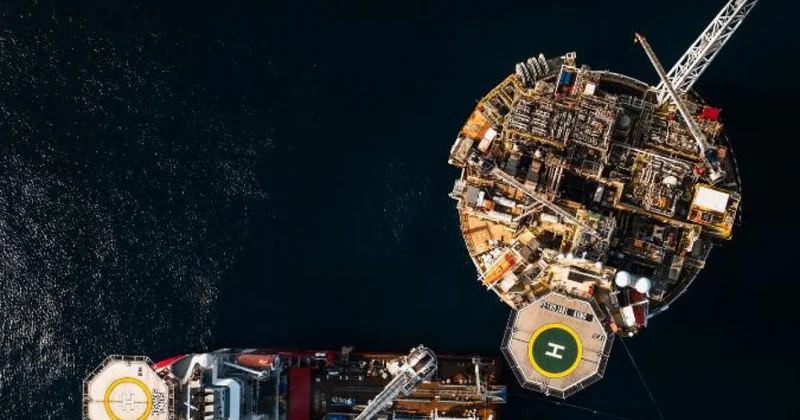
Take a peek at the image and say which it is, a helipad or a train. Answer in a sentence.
The image shows a helipad.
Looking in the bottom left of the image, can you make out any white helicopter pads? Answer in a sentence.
Yes, I can see a white helicopter pad in the bottom left of the image.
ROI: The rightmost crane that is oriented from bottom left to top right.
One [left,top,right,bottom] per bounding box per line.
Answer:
[348,343,434,420]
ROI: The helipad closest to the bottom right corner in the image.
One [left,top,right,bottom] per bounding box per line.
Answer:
[502,287,614,403]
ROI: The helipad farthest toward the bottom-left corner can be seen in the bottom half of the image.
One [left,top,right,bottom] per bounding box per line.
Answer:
[82,355,175,420]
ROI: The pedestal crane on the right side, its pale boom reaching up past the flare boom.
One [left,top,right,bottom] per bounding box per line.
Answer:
[628,30,727,184]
